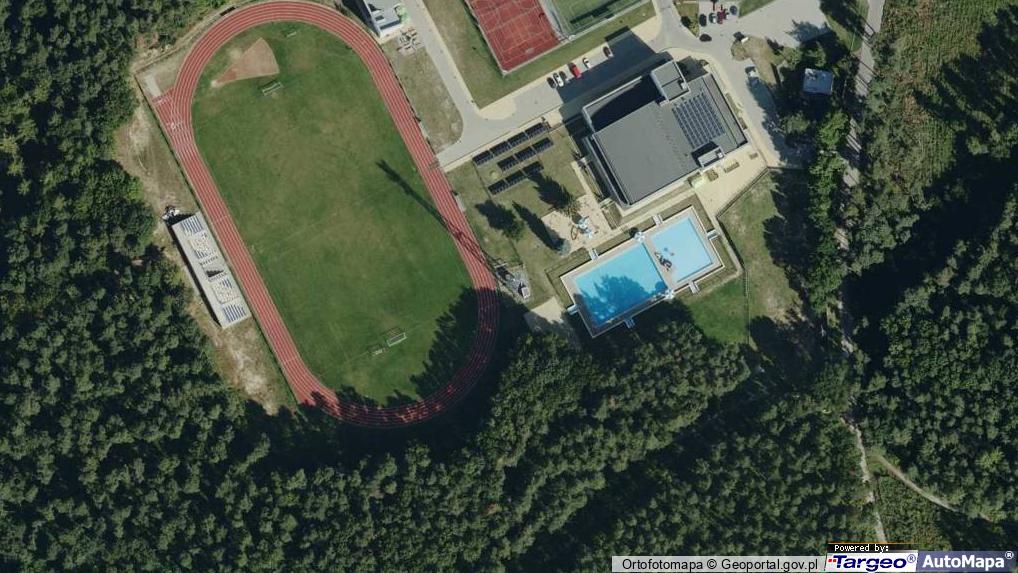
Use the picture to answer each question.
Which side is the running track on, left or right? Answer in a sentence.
The running track is on the left side of the image.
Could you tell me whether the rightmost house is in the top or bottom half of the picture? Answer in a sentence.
Seen from above, the rightmost house lies in the top half of the view.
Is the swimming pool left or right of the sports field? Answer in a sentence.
Relative to the sports field, the swimming pool is on the right.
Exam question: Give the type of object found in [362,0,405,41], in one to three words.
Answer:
building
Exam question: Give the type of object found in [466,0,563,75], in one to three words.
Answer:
sports court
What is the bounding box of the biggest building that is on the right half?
[582,59,748,209]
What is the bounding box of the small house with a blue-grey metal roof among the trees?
[803,69,834,95]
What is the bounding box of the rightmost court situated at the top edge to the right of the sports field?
[548,0,640,38]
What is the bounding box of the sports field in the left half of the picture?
[193,23,474,406]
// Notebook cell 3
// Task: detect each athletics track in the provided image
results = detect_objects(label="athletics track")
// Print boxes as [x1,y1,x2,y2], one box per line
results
[150,0,498,429]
